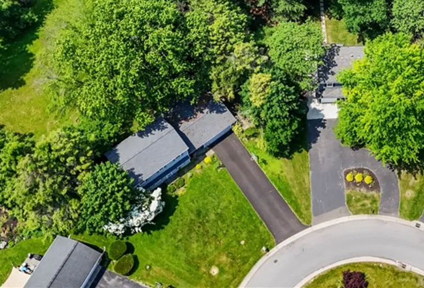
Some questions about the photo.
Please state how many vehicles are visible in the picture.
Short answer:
0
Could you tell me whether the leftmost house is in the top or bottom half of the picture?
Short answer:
bottom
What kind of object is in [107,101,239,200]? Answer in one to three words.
house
